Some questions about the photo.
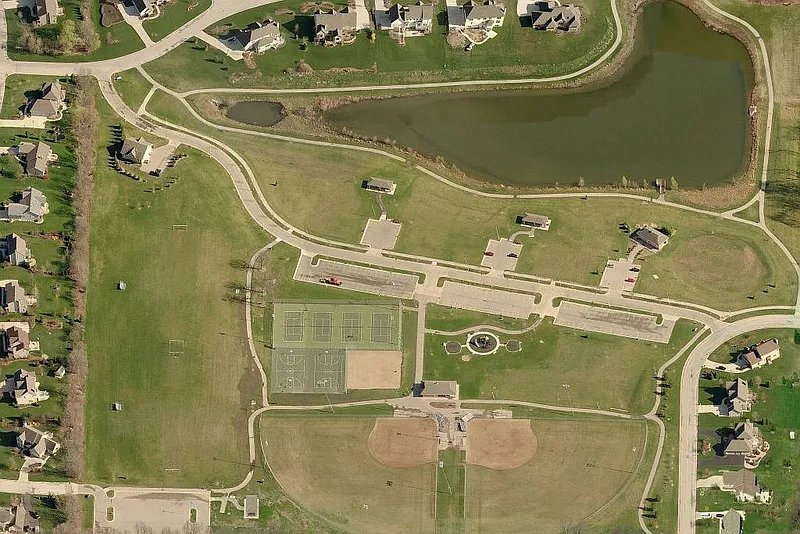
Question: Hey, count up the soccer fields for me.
2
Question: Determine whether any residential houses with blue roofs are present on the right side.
No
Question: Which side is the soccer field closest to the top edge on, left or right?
left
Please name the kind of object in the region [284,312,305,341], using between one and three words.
tennis court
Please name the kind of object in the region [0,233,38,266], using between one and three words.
house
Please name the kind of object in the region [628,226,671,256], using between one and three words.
building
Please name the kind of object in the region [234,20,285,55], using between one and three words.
house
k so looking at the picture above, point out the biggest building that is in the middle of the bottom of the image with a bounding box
[423,379,460,401]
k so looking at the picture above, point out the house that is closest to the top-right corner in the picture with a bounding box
[533,7,580,37]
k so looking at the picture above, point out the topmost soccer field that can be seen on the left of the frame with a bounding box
[133,229,227,340]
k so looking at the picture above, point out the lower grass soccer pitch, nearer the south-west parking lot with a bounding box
[133,353,227,469]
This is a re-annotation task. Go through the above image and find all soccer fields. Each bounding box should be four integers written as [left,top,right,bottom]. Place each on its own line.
[133,229,227,340]
[133,353,227,469]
